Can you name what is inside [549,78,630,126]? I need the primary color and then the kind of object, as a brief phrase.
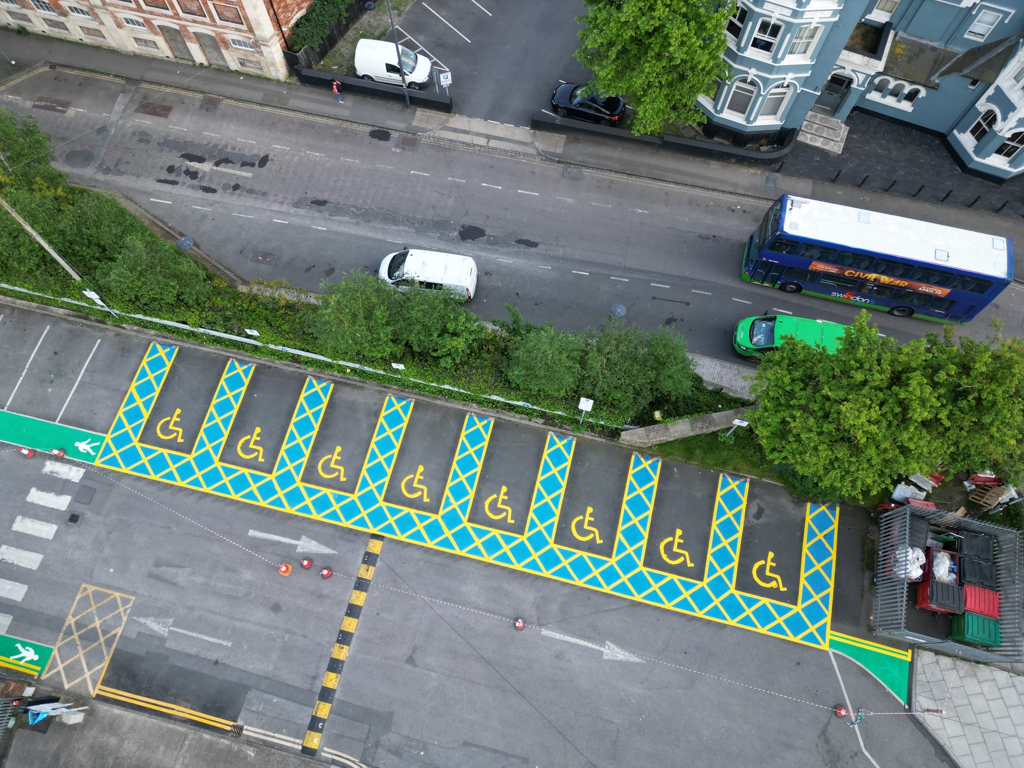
black car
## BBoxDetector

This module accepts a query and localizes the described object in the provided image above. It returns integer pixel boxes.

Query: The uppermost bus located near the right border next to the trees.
[743,196,1014,323]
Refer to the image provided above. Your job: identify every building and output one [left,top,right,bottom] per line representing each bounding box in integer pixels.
[0,0,332,85]
[675,0,1024,153]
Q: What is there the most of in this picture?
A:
paved ground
